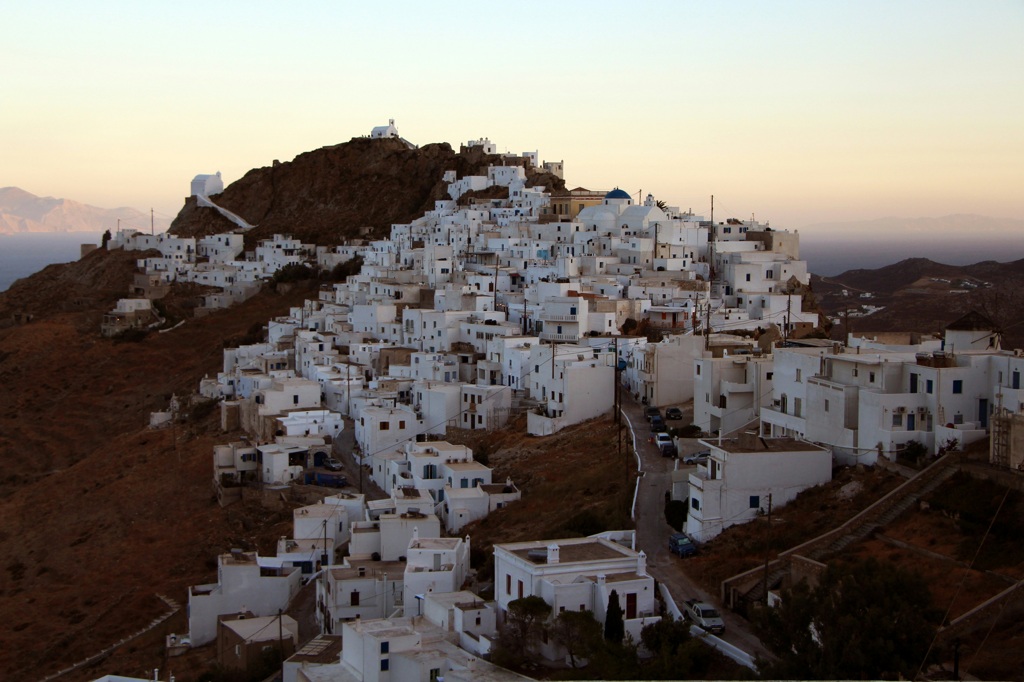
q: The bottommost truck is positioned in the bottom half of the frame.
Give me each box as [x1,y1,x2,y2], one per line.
[672,595,731,636]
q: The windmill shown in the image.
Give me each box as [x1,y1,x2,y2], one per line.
[943,302,1014,349]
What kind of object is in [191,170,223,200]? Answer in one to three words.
building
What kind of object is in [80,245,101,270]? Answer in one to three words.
house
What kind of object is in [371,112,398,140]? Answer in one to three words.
building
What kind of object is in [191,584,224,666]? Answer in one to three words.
house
